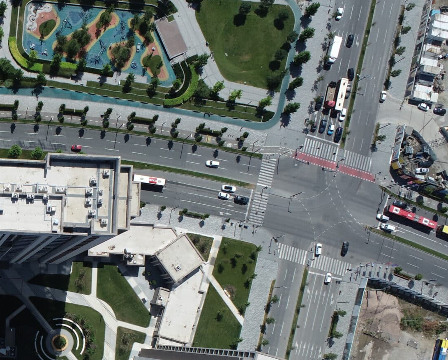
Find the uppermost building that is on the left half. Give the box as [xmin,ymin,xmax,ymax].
[154,12,188,60]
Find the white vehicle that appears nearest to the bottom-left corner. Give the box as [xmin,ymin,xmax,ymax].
[133,174,166,187]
